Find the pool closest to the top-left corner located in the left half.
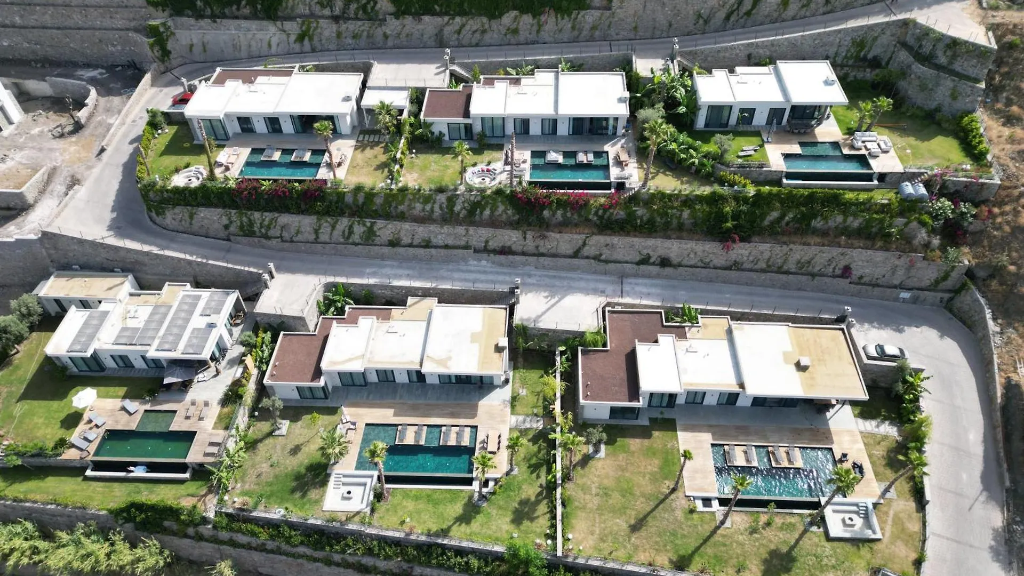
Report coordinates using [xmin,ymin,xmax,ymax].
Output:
[237,148,325,188]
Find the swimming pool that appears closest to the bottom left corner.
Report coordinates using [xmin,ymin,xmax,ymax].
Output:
[84,410,197,484]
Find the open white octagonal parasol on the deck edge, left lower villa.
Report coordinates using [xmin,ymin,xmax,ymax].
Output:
[70,388,100,412]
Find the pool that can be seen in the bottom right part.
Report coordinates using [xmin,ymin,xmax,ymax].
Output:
[710,442,849,517]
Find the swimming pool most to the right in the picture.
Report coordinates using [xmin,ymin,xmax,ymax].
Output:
[781,142,882,195]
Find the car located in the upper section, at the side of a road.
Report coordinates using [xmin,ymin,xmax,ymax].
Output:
[167,89,196,105]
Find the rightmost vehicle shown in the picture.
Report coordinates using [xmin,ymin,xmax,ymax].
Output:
[863,342,912,363]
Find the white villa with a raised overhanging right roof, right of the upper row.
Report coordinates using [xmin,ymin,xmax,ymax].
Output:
[686,57,853,127]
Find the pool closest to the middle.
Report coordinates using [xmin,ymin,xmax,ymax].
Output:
[530,150,611,204]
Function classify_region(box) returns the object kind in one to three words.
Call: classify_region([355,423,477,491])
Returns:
swimming pool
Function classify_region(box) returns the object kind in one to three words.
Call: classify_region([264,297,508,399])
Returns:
house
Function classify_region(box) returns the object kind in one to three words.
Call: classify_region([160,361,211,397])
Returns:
umbrella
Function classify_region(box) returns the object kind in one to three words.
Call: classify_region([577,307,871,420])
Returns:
house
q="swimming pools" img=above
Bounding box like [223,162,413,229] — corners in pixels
[710,442,849,517]
[530,150,611,204]
[237,148,325,188]
[84,410,197,484]
[355,423,477,491]
[781,142,882,195]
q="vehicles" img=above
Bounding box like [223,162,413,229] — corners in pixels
[167,89,196,105]
[863,342,912,363]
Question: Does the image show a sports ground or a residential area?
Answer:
residential area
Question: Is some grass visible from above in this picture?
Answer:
Yes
